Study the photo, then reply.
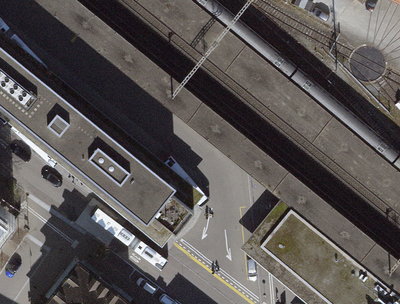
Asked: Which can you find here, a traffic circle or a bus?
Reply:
bus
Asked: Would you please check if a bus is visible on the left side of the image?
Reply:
Yes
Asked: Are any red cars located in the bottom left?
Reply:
No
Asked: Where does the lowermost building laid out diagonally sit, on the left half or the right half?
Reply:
right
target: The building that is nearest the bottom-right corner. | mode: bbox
[241,201,400,304]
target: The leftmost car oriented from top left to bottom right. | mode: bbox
[9,142,30,161]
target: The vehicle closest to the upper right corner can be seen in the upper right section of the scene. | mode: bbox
[366,0,379,14]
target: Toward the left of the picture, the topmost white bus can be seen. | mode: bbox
[91,208,168,270]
